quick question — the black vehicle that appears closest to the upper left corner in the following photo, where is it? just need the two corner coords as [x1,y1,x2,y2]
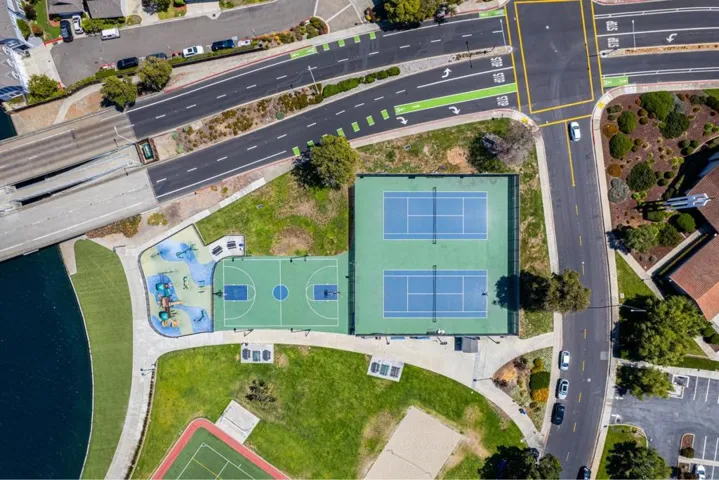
[59,20,73,41]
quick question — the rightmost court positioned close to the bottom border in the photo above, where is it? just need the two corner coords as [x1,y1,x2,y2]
[363,406,463,480]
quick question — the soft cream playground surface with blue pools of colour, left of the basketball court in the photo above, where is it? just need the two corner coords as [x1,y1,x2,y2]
[138,223,245,338]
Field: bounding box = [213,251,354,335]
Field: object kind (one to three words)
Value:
basketball court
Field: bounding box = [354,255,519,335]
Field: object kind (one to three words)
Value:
tennis court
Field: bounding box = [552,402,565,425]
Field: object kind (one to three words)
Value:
vehicle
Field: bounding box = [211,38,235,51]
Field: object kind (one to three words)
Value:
vehicle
